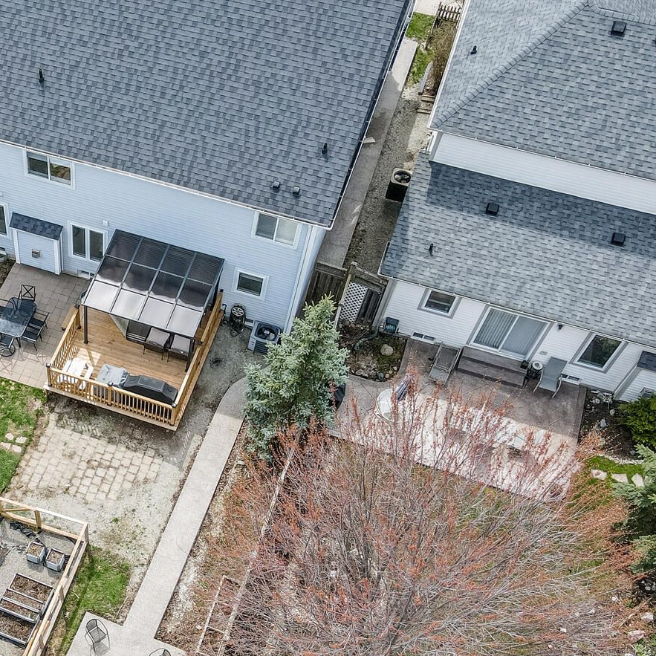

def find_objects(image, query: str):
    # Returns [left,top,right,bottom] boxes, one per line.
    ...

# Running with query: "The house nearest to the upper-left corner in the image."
[0,0,410,338]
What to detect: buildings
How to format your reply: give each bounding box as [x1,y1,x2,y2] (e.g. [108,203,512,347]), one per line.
[0,0,410,338]
[374,0,656,412]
